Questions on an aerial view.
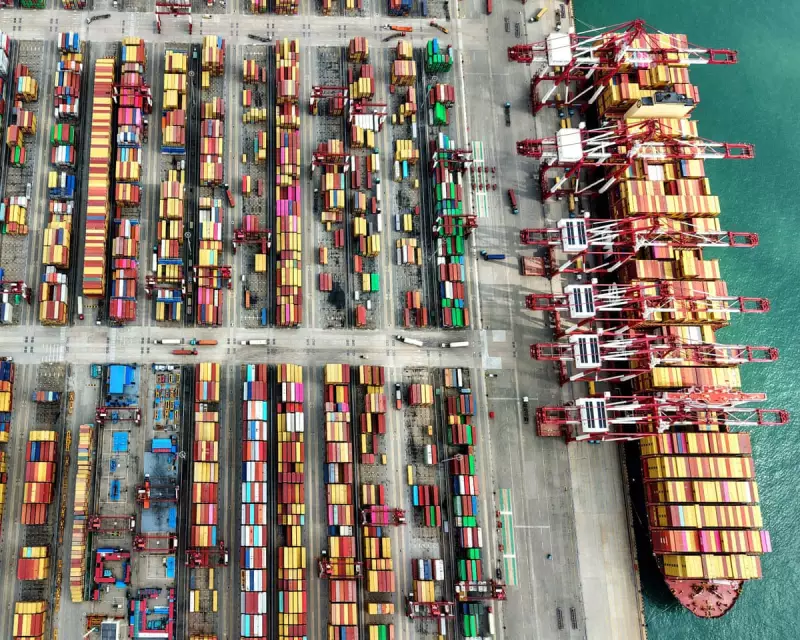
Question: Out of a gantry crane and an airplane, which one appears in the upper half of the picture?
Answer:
gantry crane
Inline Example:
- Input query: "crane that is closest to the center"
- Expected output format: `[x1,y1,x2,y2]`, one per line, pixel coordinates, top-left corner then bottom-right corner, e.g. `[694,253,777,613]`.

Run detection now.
[429,215,480,241]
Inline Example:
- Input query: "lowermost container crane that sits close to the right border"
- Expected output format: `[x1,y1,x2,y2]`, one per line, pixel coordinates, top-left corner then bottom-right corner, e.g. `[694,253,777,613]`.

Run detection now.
[534,388,795,445]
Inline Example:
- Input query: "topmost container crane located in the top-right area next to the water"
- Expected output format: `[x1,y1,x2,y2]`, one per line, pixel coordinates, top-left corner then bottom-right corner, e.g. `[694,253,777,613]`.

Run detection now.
[505,20,735,108]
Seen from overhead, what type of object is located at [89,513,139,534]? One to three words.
container crane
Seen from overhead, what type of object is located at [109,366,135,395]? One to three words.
shed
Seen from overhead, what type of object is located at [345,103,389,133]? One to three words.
container crane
